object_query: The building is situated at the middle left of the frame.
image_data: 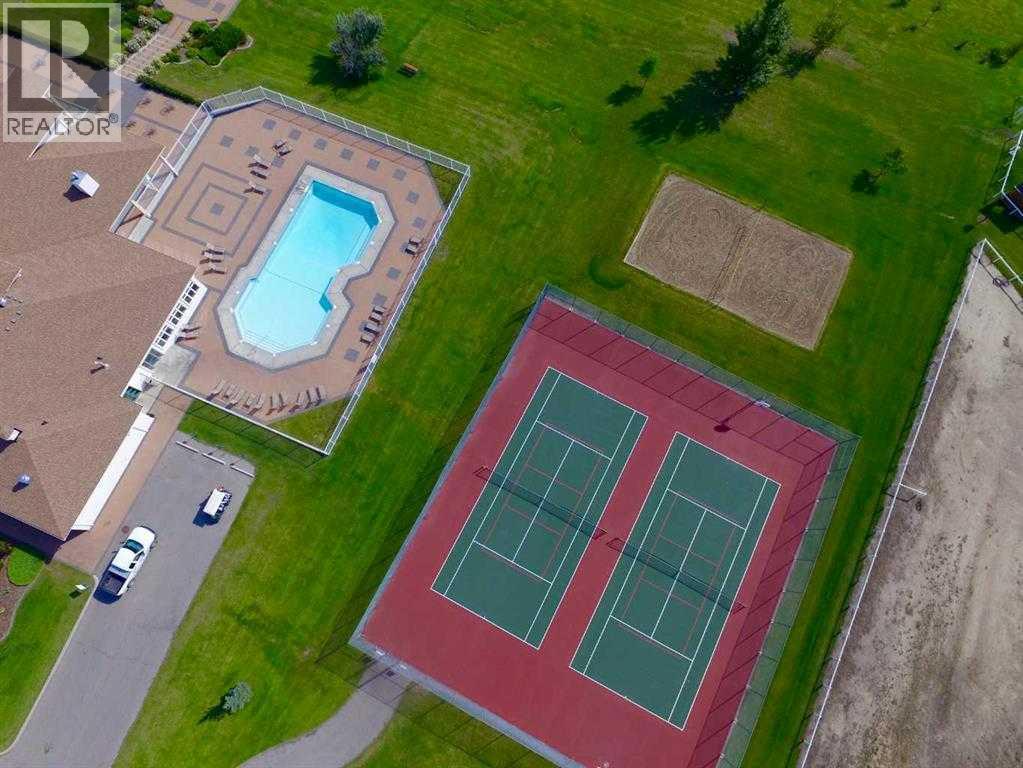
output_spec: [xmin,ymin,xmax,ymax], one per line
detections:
[0,84,206,541]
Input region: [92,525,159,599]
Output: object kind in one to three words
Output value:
truck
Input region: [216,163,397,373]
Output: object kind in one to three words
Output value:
swimming pool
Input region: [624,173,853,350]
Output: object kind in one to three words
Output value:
sports court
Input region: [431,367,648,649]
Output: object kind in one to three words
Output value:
tennis court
